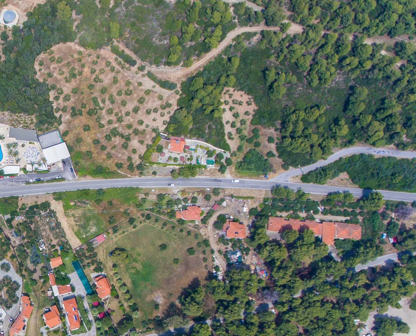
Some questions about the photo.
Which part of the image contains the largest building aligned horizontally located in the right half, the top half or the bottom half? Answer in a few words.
bottom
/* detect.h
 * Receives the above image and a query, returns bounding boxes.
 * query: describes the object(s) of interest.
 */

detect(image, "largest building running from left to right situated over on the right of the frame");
[266,217,362,245]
